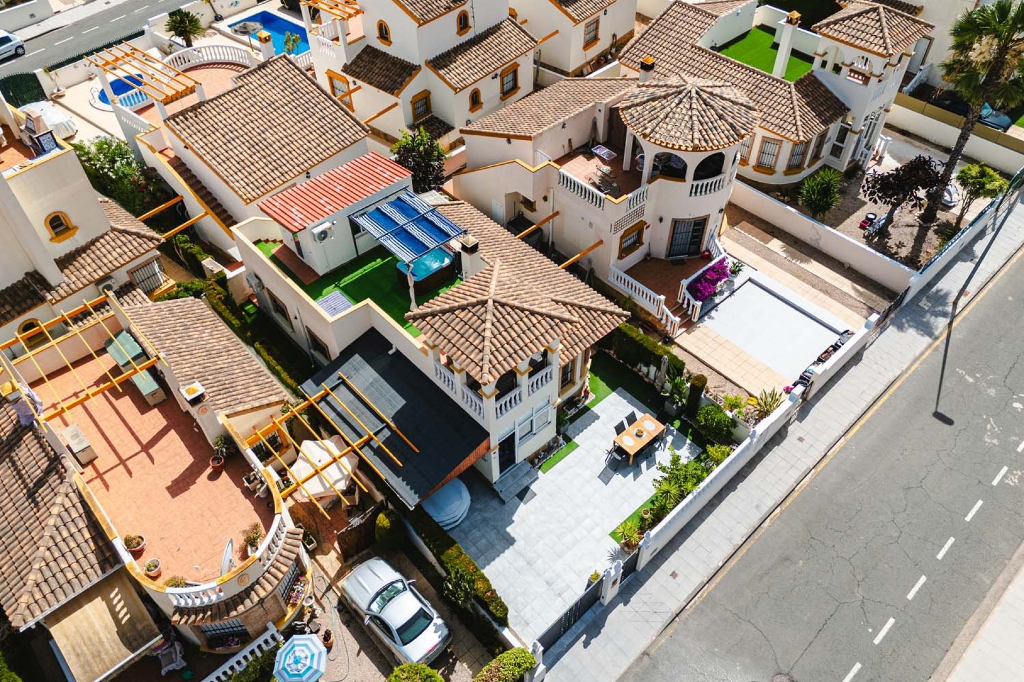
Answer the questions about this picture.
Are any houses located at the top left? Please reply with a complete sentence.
Yes, a house shows up at the top left.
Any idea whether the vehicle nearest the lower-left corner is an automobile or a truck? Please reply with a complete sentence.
I'd identify the vehicle nearest the lower-left corner as an automobile.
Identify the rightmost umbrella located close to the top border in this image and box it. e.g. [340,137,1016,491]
[232,14,262,48]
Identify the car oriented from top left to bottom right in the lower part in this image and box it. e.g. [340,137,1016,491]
[342,556,460,671]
